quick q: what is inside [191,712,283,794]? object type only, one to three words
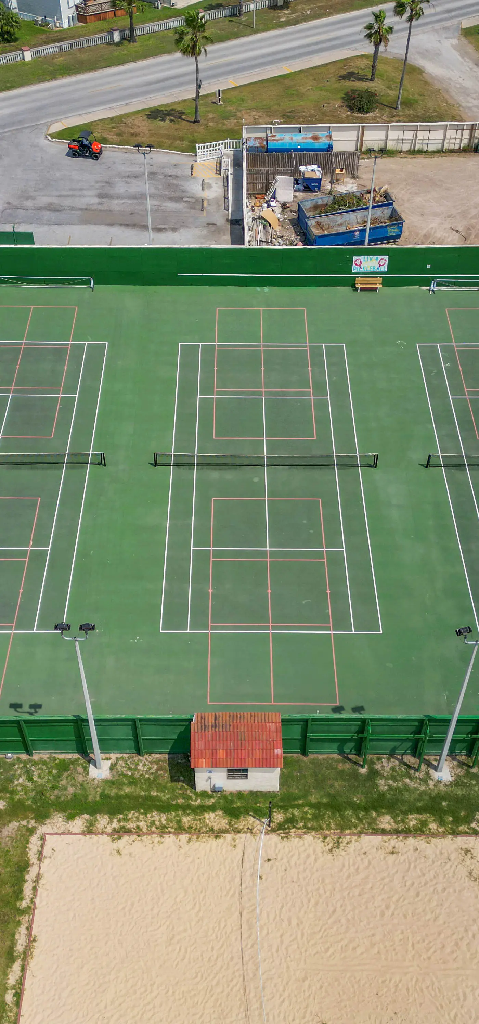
shed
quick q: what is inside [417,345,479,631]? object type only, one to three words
tennis court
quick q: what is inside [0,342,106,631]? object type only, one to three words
tennis court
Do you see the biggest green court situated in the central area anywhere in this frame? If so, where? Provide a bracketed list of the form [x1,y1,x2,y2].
[161,343,381,632]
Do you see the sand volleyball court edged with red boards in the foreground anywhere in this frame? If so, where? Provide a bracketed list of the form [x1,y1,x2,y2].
[16,832,479,1024]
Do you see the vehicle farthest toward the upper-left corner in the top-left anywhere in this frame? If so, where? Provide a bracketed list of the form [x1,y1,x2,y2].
[66,131,106,160]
